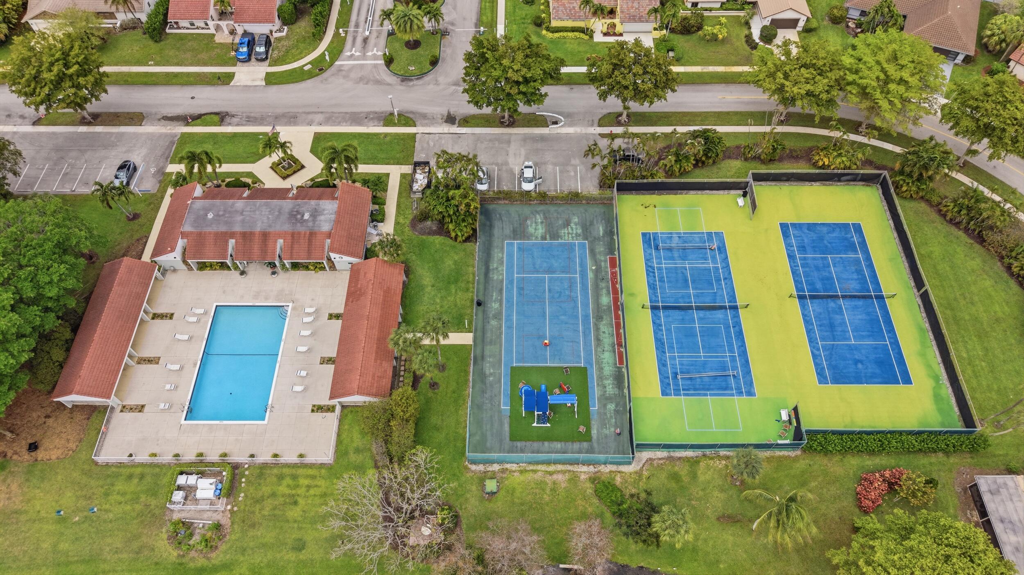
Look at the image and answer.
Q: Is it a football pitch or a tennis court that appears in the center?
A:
tennis court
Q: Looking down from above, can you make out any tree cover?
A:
Yes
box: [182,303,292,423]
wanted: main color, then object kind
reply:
blue swimming pool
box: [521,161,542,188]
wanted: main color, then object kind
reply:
white car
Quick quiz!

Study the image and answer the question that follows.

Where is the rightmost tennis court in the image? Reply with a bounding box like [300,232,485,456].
[746,185,961,438]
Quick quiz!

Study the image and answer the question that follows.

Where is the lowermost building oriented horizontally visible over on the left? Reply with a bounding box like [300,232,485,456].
[149,181,372,271]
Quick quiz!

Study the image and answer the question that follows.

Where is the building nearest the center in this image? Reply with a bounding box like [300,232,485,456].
[329,256,405,407]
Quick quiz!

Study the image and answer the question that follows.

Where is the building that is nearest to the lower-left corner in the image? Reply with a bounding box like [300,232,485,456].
[51,257,162,407]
